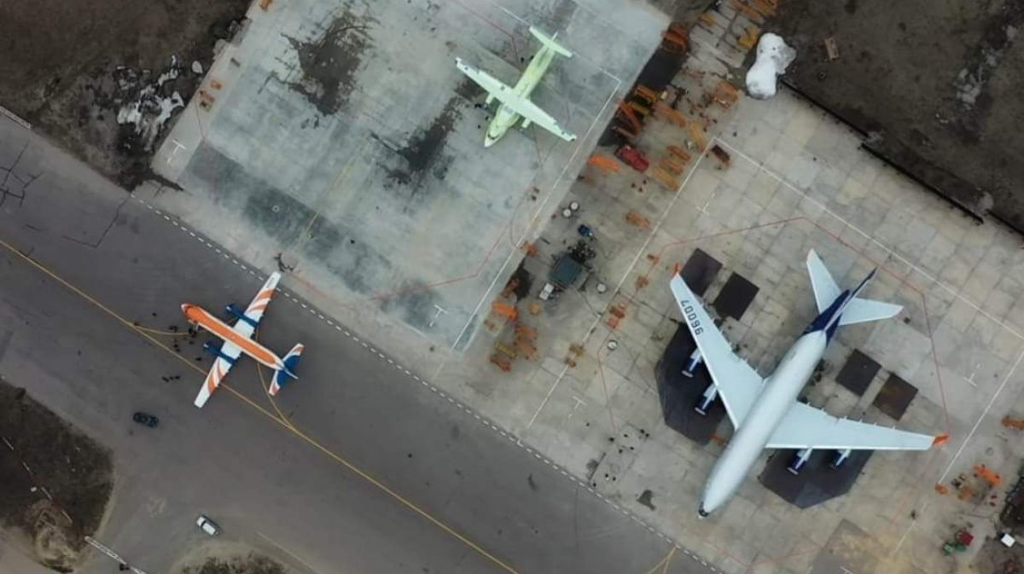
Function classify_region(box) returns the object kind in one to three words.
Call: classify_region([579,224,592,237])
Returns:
vehicle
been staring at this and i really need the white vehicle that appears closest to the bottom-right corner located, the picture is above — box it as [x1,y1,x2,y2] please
[1001,533,1020,550]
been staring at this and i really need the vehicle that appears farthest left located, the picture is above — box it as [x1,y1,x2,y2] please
[132,411,158,428]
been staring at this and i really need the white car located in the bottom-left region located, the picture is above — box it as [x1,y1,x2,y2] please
[194,517,220,537]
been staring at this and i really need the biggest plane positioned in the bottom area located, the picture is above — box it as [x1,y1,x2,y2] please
[673,253,950,516]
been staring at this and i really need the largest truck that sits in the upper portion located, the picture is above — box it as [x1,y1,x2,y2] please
[615,145,650,173]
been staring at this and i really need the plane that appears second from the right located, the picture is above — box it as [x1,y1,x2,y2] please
[453,24,577,147]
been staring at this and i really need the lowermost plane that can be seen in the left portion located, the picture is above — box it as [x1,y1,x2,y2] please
[182,273,304,408]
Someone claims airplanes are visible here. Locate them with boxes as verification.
[453,24,577,147]
[182,273,304,408]
[673,253,950,516]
